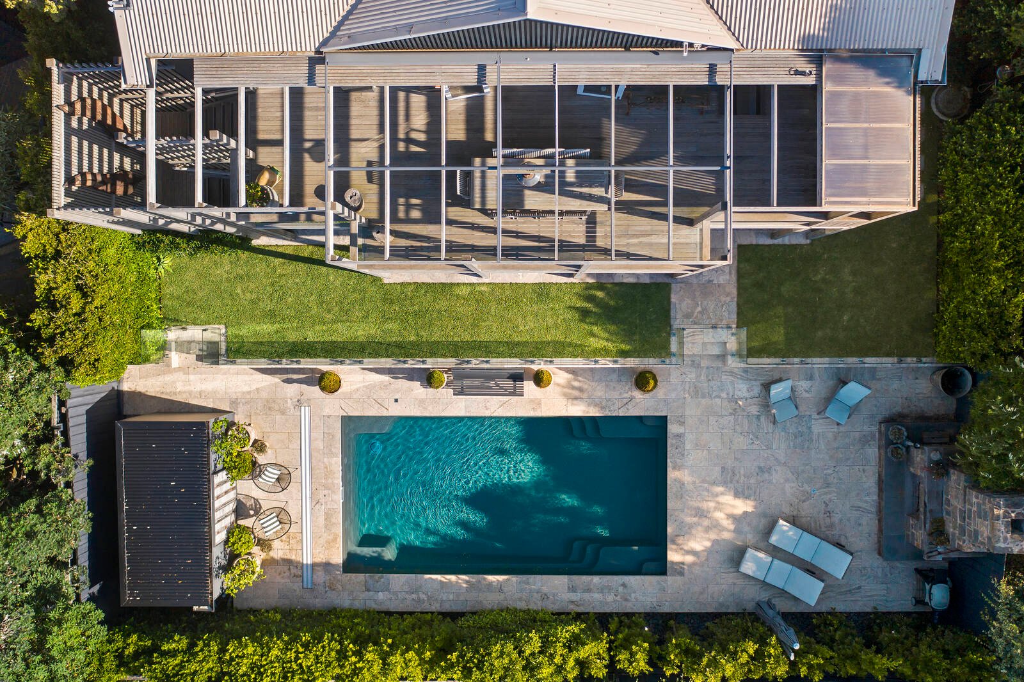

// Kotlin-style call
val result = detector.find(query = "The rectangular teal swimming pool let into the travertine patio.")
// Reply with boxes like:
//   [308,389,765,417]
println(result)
[339,417,667,574]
